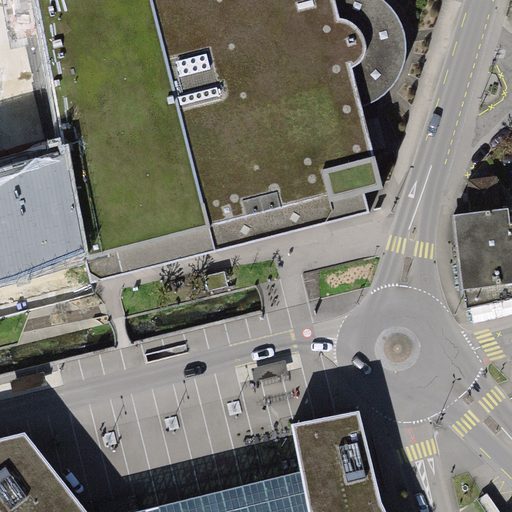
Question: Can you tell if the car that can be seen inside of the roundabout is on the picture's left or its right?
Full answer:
The car that can be seen inside of the roundabout is on the right side of the image.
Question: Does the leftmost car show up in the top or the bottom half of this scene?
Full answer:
The leftmost car sits in the bottom half of the picture.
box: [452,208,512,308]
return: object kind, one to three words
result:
building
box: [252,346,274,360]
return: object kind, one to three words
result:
vehicle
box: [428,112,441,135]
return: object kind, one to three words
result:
vehicle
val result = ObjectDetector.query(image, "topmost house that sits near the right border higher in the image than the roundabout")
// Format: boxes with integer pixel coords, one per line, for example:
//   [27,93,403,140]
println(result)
[458,165,504,212]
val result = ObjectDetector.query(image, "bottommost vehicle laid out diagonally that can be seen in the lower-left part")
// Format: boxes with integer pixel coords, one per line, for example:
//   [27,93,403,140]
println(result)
[64,469,84,493]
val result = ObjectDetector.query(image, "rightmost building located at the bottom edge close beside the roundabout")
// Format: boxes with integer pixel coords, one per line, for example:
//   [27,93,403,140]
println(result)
[292,410,386,512]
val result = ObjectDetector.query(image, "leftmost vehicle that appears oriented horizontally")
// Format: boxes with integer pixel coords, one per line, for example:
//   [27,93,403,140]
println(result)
[184,362,207,376]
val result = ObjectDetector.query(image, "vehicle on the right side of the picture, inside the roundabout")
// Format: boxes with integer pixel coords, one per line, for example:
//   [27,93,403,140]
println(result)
[352,356,372,375]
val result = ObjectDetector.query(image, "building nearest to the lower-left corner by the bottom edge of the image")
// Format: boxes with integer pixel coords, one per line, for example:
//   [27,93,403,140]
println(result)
[0,432,89,512]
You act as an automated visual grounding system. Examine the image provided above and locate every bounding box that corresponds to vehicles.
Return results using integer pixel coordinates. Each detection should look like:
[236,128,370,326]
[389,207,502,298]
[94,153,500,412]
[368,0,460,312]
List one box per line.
[352,356,372,375]
[489,126,510,147]
[64,469,84,493]
[428,112,441,135]
[252,346,274,360]
[310,340,333,352]
[184,362,207,376]
[471,142,492,163]
[414,493,430,512]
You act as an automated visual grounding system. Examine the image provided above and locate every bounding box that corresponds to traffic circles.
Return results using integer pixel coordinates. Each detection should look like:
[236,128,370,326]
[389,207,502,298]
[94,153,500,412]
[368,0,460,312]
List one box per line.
[334,284,483,424]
